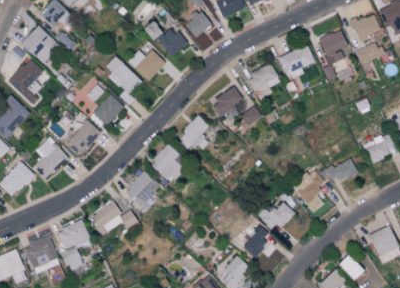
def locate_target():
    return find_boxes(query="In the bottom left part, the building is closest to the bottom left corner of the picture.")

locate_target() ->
[0,249,28,285]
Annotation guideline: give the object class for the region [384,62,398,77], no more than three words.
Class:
swimming pool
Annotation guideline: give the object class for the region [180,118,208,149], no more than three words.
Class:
house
